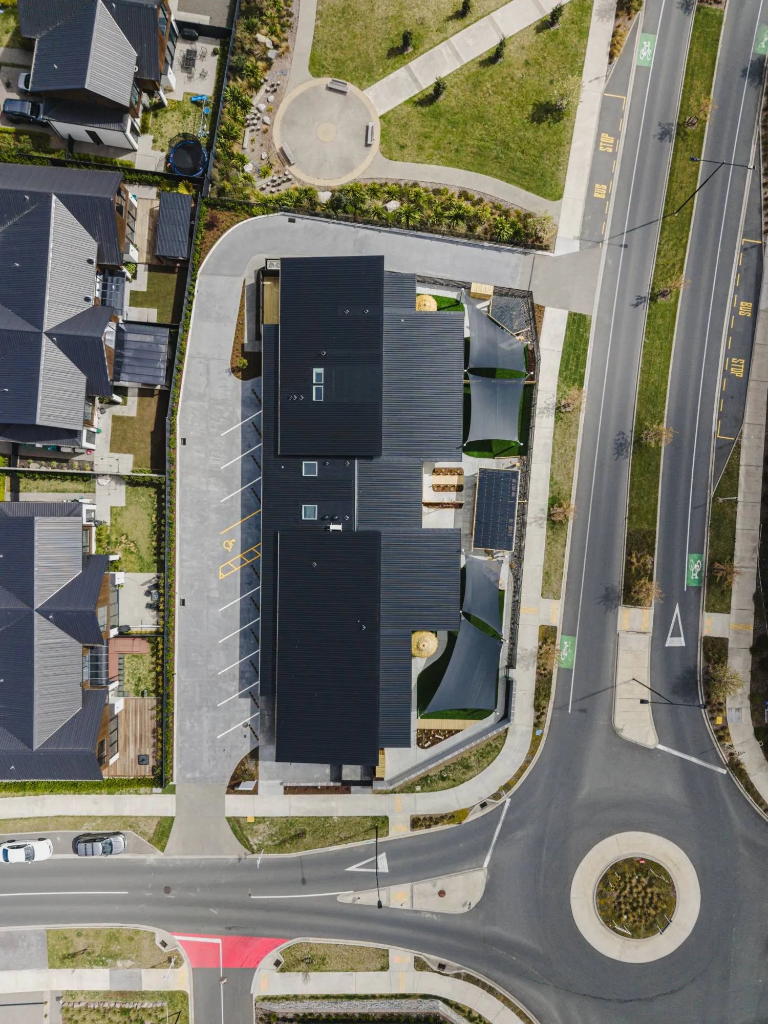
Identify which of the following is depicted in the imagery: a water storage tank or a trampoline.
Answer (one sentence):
The one in the frame is a trampoline.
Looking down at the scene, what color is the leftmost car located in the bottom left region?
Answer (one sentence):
The leftmost car located in the bottom left region is white.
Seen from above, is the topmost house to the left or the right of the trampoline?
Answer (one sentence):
From the viewer's perspective, the topmost house falls to the left of the trampoline.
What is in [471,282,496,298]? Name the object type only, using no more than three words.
shed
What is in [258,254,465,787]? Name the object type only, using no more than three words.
building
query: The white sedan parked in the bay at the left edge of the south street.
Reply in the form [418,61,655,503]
[0,835,52,865]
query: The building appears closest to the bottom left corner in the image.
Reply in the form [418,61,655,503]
[0,502,118,781]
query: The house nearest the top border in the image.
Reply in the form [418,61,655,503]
[15,0,179,151]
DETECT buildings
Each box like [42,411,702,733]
[258,254,465,787]
[471,282,496,298]
[0,163,136,447]
[0,502,118,781]
[15,0,179,151]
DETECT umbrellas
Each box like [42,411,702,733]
[411,634,438,656]
[416,295,435,306]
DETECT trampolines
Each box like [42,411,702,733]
[165,127,208,174]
